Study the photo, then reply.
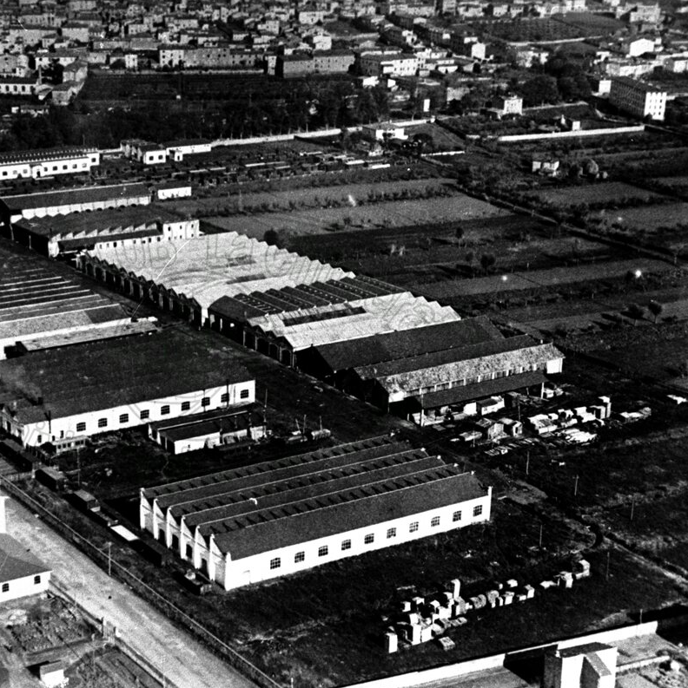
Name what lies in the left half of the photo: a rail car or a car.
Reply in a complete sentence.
Visible in the left half of the photo is a rail car.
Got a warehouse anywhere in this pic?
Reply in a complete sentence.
Yes, I can see a warehouse in this picture.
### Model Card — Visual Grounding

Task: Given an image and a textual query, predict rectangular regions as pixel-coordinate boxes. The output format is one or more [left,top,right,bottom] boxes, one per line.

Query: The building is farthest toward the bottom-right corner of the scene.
[544,628,626,688]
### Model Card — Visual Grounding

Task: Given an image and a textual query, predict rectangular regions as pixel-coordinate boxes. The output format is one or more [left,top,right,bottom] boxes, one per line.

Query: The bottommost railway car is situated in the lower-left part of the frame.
[166,565,205,591]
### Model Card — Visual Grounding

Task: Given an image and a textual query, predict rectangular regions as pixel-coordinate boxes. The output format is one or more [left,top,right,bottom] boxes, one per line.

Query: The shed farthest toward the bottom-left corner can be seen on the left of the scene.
[37,663,66,687]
